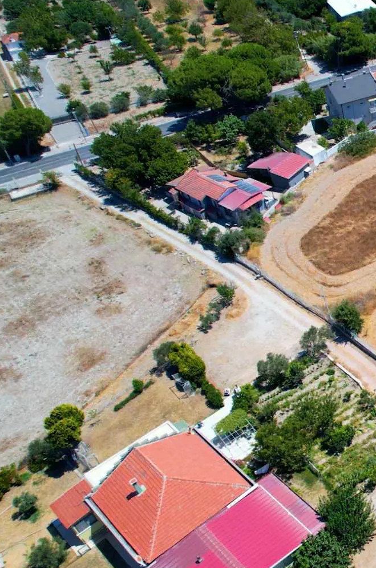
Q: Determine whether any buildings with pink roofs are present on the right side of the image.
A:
Yes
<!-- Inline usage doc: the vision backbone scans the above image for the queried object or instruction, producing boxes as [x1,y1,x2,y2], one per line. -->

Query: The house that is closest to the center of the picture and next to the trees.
[171,166,272,227]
